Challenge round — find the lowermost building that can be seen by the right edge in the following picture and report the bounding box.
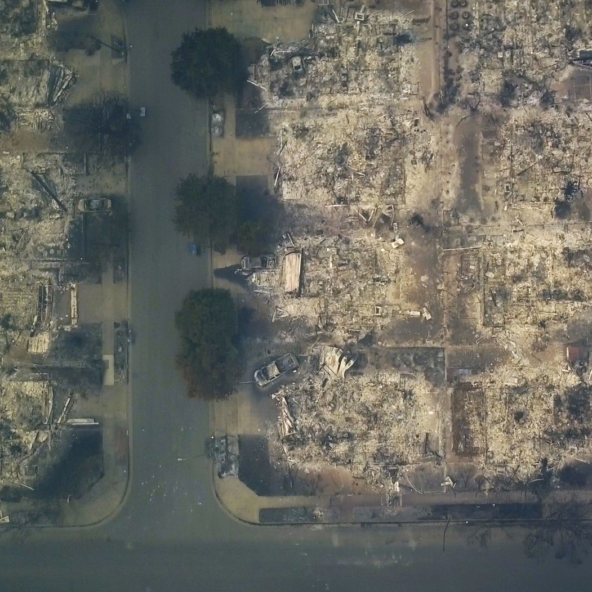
[478,369,592,480]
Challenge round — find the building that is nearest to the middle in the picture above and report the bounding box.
[247,227,411,338]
